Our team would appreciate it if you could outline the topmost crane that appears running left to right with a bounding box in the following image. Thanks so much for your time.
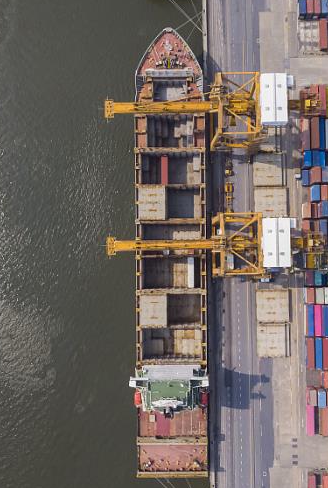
[102,71,321,158]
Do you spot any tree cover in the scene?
No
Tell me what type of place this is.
port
